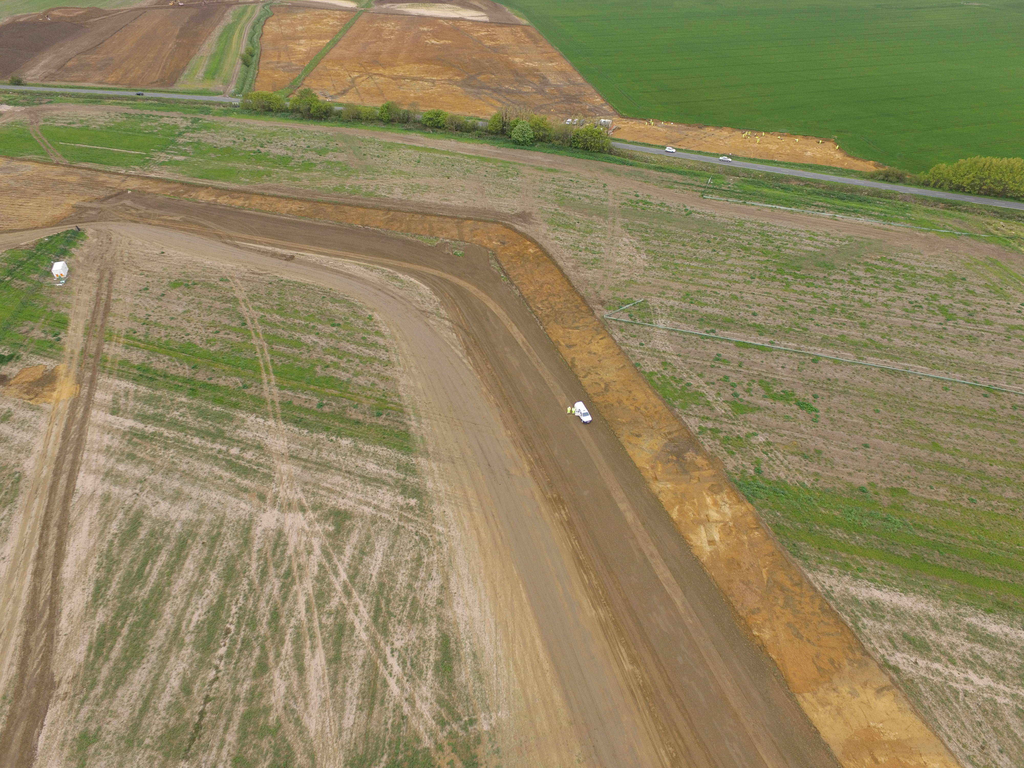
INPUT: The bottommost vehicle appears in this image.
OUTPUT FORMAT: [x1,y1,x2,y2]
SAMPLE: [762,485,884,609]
[575,402,592,423]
